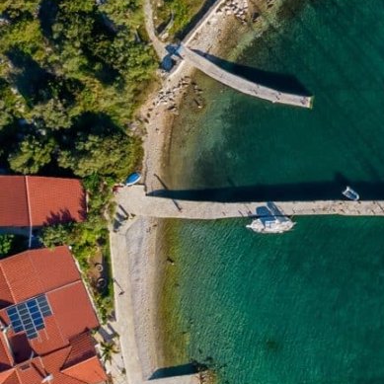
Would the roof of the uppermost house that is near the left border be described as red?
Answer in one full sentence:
Yes, the roof of the uppermost house that is near the left border appears red.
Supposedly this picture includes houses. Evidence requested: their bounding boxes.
[0,245,112,384]
[0,175,90,228]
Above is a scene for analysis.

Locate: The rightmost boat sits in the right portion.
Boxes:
[342,184,358,196]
